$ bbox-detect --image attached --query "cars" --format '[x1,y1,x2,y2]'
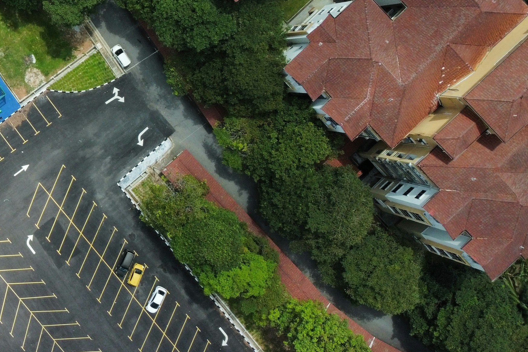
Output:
[118,249,139,276]
[128,262,144,287]
[147,284,165,313]
[111,43,131,69]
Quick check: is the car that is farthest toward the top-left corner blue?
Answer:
No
